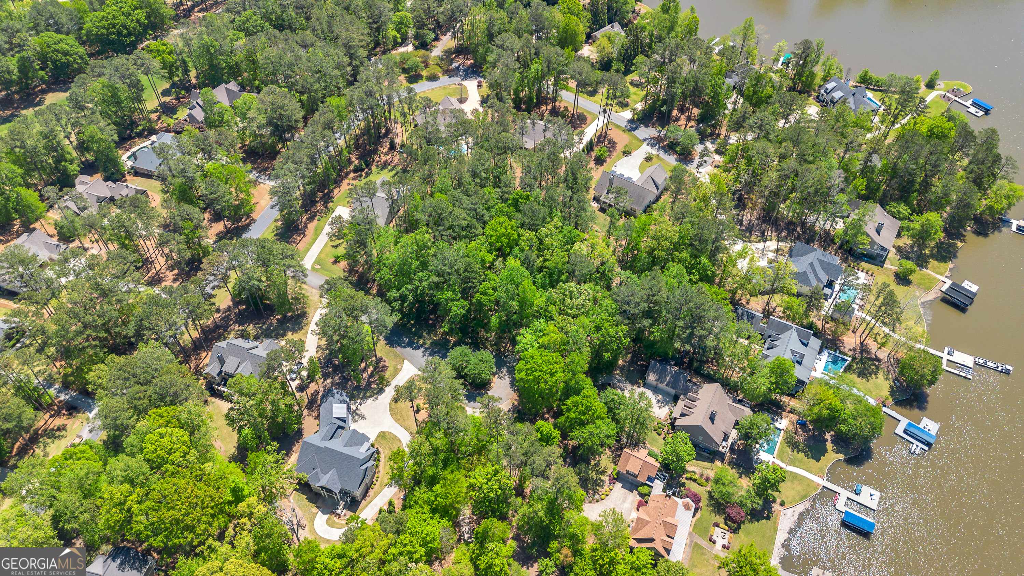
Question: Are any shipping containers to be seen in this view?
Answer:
No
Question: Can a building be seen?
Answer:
Yes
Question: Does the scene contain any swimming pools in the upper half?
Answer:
Yes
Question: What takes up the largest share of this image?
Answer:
trees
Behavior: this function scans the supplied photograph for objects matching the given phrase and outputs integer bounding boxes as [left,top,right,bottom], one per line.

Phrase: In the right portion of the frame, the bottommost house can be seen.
[623,489,697,563]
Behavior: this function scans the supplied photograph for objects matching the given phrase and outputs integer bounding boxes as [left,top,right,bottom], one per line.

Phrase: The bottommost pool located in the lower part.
[753,415,789,462]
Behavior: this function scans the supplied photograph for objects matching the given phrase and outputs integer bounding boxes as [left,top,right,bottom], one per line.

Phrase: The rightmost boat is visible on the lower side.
[974,355,1014,374]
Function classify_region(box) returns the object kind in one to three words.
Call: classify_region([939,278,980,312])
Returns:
pier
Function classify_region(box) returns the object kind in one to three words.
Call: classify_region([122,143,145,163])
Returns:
swimming pool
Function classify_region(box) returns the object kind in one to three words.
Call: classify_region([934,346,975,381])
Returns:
pier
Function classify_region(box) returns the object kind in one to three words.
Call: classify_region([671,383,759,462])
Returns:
house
